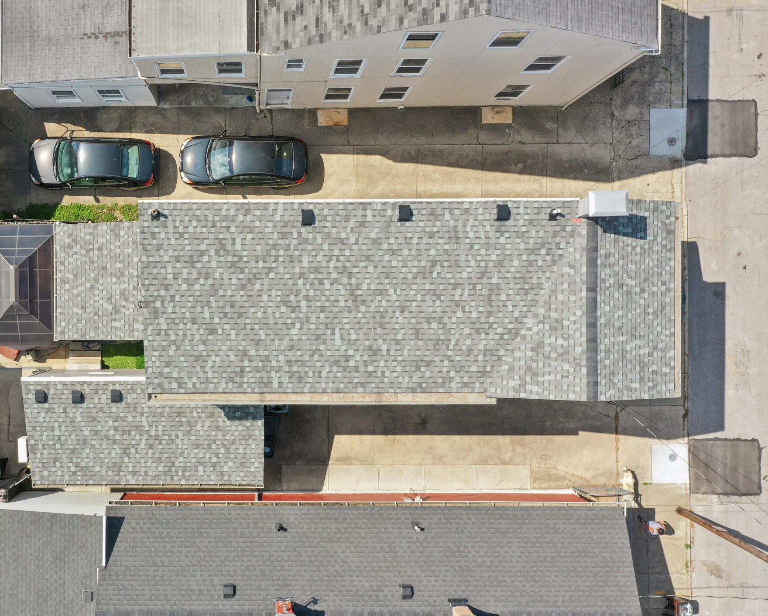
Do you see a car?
Yes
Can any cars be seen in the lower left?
No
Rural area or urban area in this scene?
urban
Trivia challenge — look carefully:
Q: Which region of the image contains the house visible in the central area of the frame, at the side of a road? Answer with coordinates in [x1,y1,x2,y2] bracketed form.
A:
[21,191,682,487]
